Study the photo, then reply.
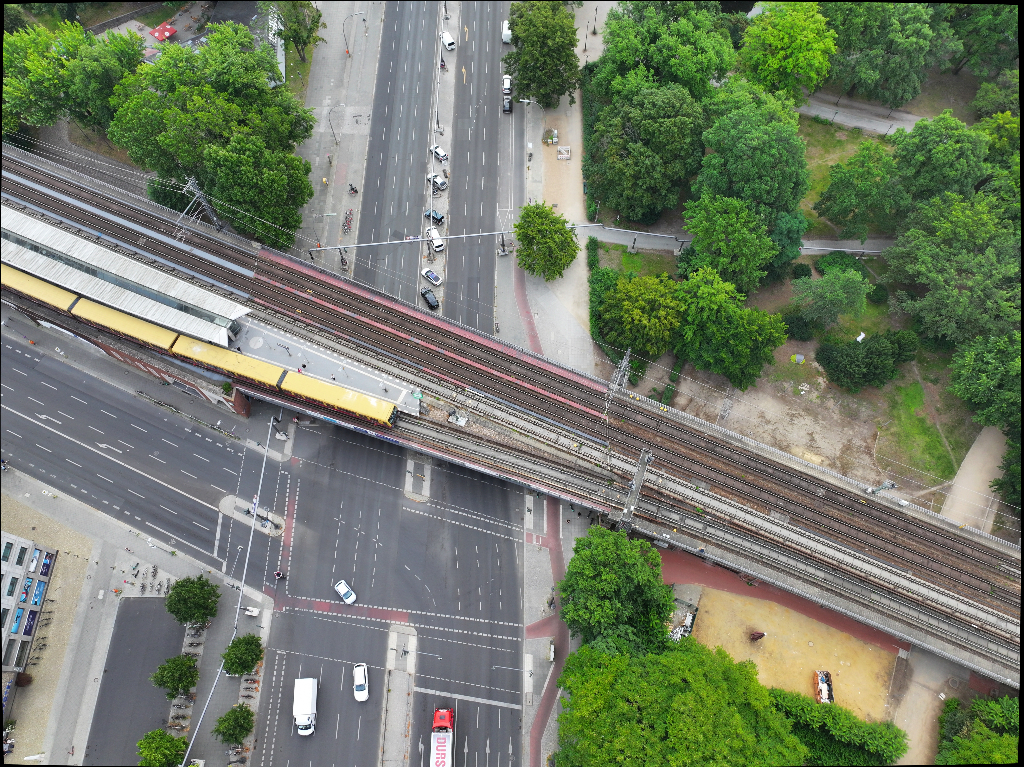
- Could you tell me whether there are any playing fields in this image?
No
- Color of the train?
yellow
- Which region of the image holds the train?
left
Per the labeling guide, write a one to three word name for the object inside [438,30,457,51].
vehicle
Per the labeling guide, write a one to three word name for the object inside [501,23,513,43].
vehicle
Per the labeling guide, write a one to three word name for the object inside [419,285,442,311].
car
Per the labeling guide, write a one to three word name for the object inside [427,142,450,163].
car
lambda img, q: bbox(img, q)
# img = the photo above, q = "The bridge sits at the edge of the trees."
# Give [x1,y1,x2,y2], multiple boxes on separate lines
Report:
[0,146,1024,690]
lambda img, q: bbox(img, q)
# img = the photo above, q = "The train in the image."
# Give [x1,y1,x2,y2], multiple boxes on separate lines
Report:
[0,264,398,429]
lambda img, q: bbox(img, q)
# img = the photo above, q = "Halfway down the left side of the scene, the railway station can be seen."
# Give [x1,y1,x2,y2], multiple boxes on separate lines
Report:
[0,205,420,418]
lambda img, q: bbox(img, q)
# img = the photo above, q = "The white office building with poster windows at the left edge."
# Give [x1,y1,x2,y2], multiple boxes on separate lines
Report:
[0,532,57,669]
